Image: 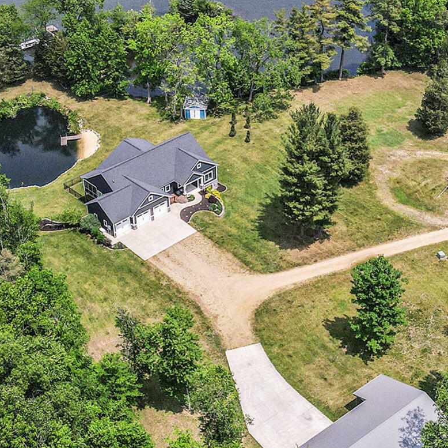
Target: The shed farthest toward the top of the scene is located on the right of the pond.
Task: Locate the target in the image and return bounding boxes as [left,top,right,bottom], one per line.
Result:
[182,95,207,118]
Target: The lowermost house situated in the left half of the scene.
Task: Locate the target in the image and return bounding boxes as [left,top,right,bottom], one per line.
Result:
[81,133,219,237]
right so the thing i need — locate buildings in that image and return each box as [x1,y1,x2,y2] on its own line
[297,377,442,448]
[81,133,219,237]
[182,95,207,118]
